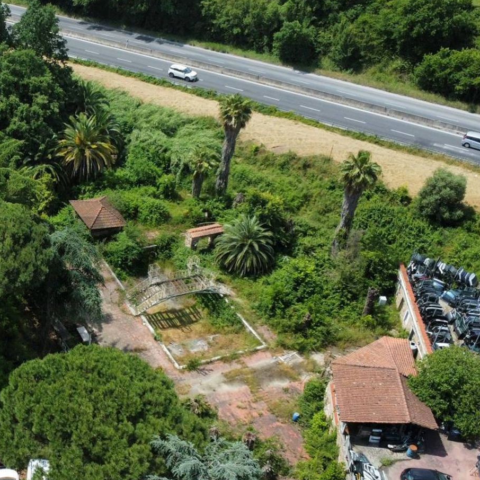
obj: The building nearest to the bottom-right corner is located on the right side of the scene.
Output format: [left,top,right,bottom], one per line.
[322,335,437,451]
